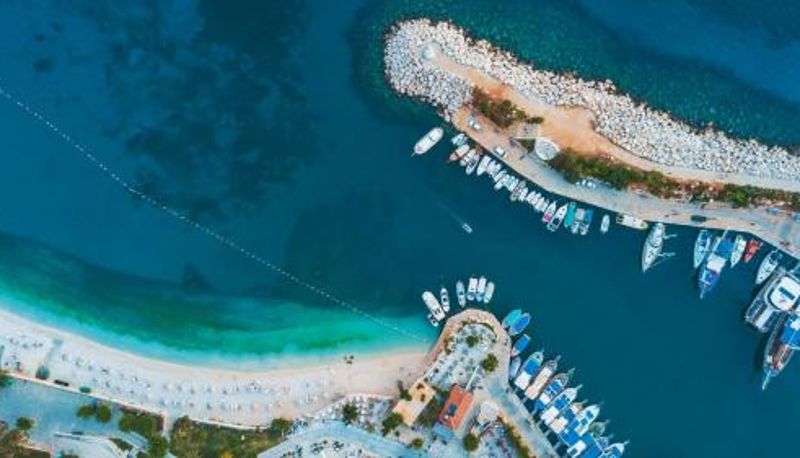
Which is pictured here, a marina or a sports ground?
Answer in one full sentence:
The area seen from above is a marina.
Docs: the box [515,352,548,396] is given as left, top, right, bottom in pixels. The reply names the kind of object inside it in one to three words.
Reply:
boat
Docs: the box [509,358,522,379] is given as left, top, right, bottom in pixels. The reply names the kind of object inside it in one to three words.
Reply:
boat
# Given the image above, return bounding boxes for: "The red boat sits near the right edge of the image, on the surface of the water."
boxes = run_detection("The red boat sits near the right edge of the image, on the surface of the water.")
[746,239,760,262]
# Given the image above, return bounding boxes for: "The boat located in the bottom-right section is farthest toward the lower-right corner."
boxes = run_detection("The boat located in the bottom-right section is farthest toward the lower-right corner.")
[769,307,800,388]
